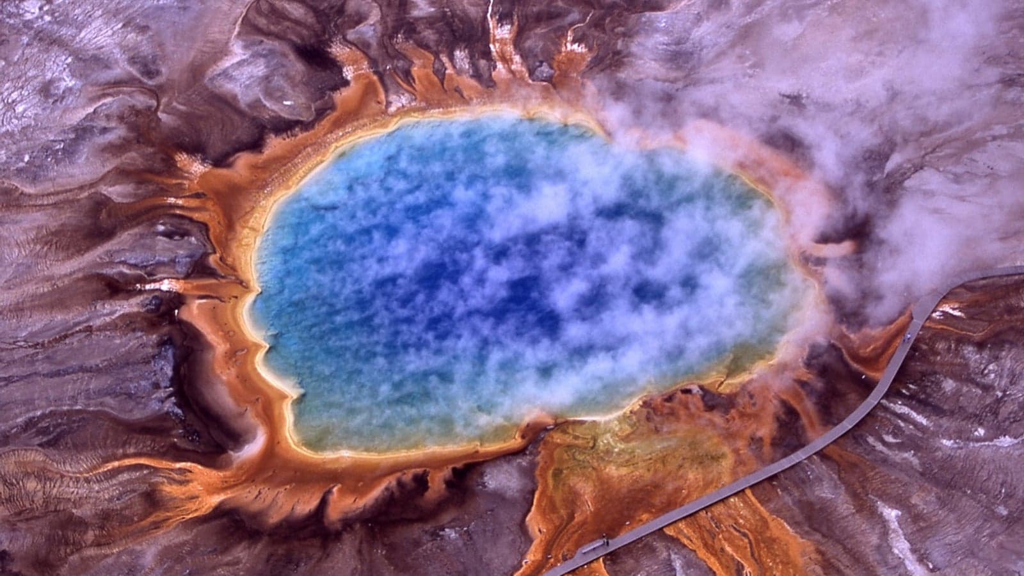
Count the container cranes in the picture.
0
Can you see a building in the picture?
No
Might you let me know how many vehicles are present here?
none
